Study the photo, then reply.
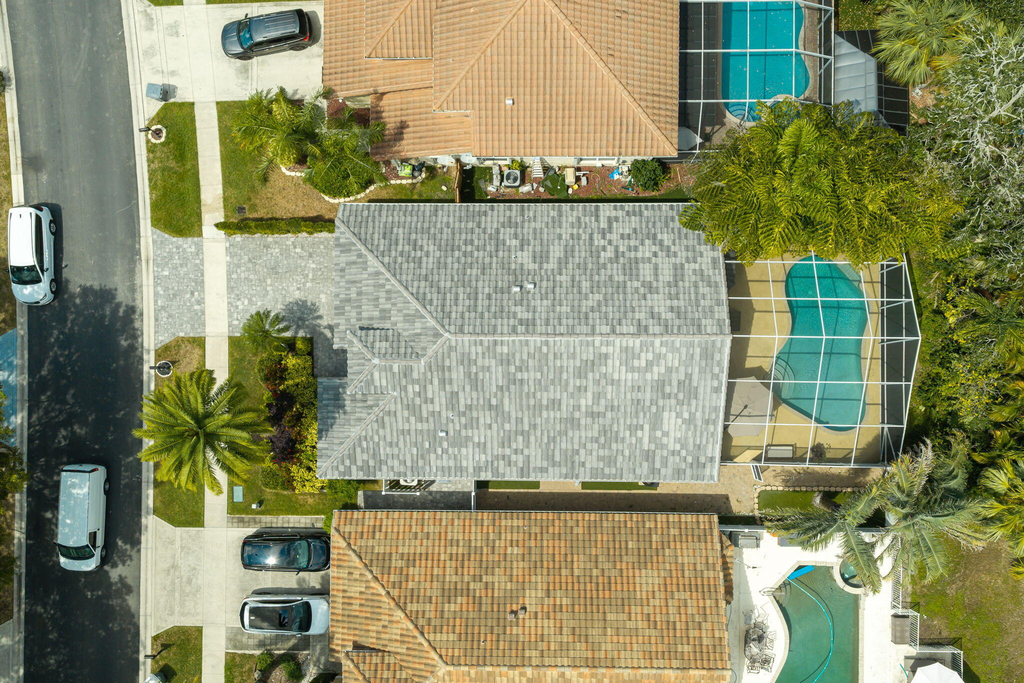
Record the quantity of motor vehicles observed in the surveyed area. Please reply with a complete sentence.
Altogether the scene contains 5 motor vehicles.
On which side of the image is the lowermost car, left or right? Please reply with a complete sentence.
It is on the left.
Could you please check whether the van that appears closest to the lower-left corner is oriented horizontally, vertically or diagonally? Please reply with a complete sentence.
The van that appears closest to the lower-left corner is laid out vertically.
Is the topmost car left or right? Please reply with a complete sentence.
The topmost car appears in the left half of the scene.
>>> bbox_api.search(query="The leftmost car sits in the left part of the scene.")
[5,205,55,304]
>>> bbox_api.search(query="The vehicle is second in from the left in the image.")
[52,465,107,572]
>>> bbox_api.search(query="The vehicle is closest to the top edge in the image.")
[222,9,316,60]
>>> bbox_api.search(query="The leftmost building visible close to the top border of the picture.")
[321,0,681,166]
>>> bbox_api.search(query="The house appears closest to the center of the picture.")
[316,201,733,482]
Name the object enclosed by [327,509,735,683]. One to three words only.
house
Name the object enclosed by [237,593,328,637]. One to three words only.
car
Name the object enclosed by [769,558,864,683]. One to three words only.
swimming pool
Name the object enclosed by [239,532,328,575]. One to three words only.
car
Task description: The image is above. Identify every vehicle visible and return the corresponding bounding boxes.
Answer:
[239,532,328,575]
[237,593,328,637]
[222,9,316,60]
[5,205,55,304]
[52,465,107,572]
